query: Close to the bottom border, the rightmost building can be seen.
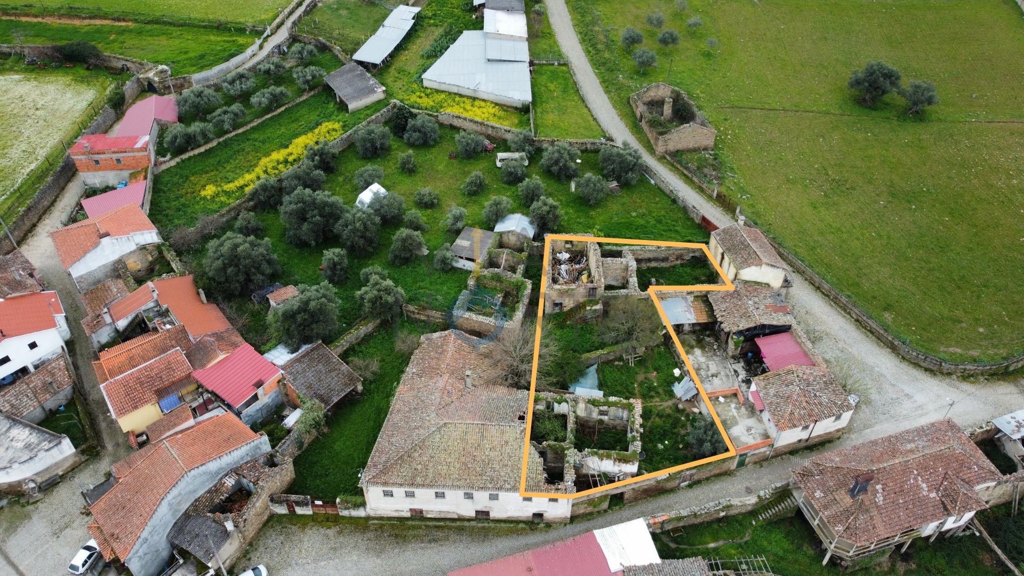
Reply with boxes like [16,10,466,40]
[789,418,1004,566]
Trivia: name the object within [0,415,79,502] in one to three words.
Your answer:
house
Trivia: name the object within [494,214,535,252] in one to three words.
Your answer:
shed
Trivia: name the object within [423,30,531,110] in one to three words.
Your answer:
barn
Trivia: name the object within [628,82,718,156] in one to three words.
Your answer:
building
